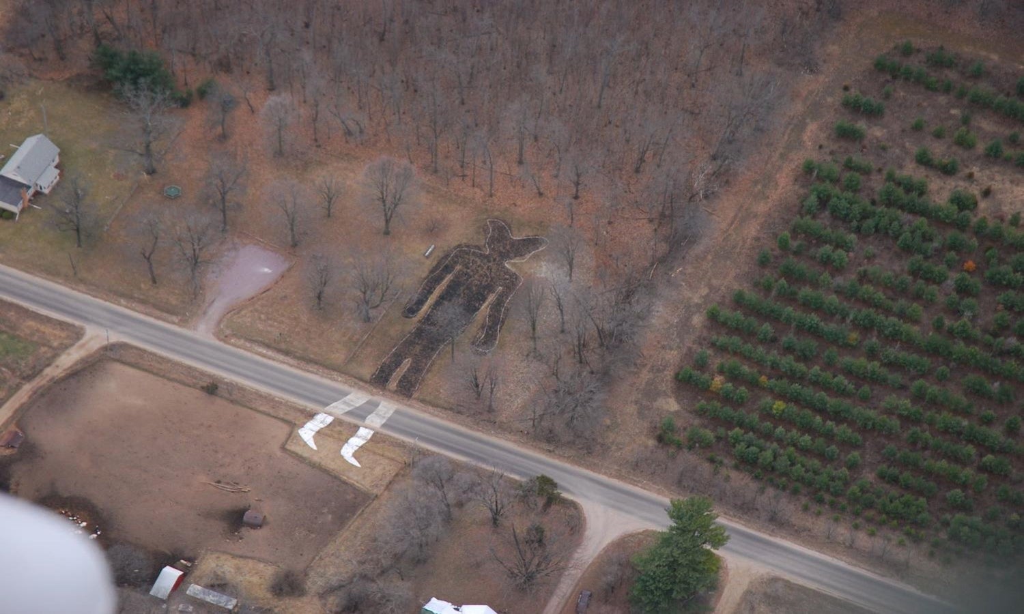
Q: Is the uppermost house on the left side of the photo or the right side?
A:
left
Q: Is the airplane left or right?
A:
left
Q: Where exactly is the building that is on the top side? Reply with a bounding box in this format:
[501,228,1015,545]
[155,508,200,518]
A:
[0,137,63,223]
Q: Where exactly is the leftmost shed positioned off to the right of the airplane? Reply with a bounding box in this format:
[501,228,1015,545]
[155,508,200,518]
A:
[150,568,184,600]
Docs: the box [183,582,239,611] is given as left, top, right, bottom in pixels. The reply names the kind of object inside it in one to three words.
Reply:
shed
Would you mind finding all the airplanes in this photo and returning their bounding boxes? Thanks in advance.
[0,489,121,614]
